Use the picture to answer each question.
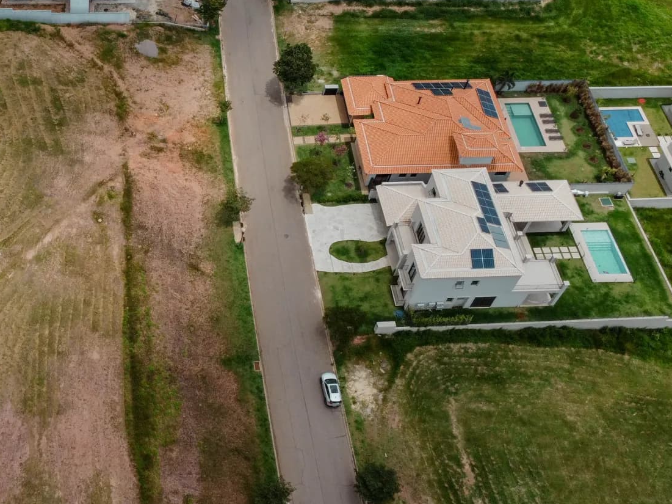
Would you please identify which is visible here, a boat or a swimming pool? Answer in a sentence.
I can see a swimming pool in this picture.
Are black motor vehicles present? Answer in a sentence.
No, the photo shows no black motor vehicle.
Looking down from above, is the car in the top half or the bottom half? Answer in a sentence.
The bottom half of the photo is where the car is.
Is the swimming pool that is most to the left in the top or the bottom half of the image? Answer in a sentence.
It is in the top half that the swimming pool that is most to the left appears.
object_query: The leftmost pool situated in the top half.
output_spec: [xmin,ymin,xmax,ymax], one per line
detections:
[504,102,547,148]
